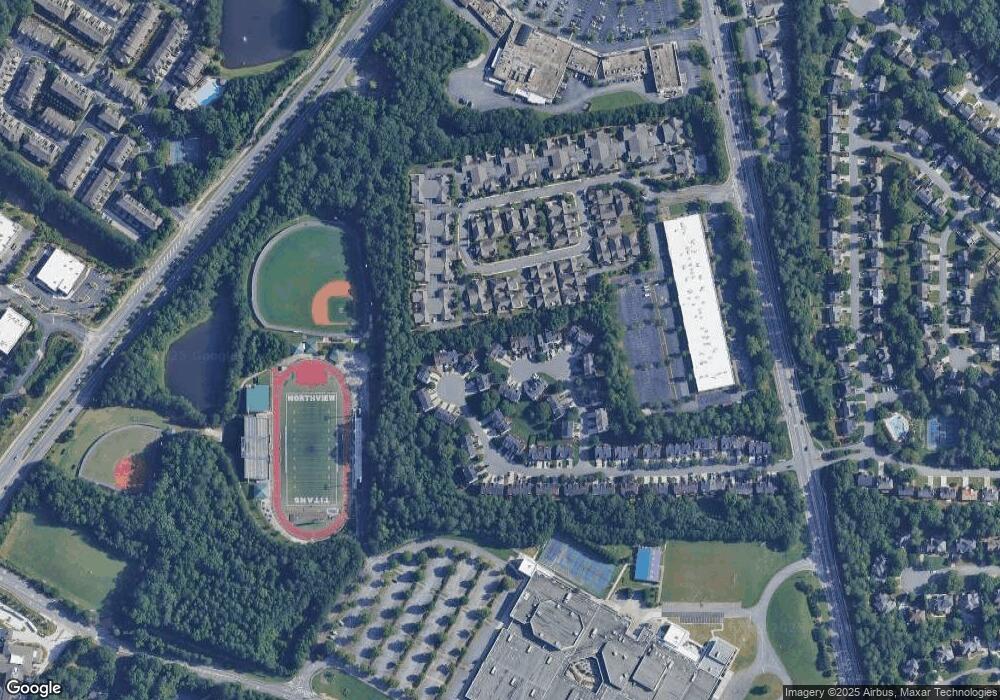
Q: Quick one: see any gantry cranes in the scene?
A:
No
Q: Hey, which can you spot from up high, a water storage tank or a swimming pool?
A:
swimming pool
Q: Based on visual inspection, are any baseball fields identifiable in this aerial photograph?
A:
Yes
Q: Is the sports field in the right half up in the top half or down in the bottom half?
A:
bottom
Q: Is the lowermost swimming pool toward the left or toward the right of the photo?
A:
right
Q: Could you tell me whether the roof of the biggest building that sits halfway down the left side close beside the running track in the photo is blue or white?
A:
blue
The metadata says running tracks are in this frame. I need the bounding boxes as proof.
[272,360,351,542]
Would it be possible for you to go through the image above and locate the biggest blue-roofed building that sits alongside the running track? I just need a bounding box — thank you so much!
[246,385,269,411]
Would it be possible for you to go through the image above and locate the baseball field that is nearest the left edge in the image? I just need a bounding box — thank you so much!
[79,425,165,498]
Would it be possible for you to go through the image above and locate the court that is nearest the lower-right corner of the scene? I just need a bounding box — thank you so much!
[928,419,961,450]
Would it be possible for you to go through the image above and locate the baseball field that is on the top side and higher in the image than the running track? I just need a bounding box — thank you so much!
[252,220,372,336]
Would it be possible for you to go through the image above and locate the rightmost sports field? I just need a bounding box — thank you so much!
[667,545,734,599]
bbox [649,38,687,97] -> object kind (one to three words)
building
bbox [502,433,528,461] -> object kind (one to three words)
house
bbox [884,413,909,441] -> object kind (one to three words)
swimming pool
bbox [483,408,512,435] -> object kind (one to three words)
house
